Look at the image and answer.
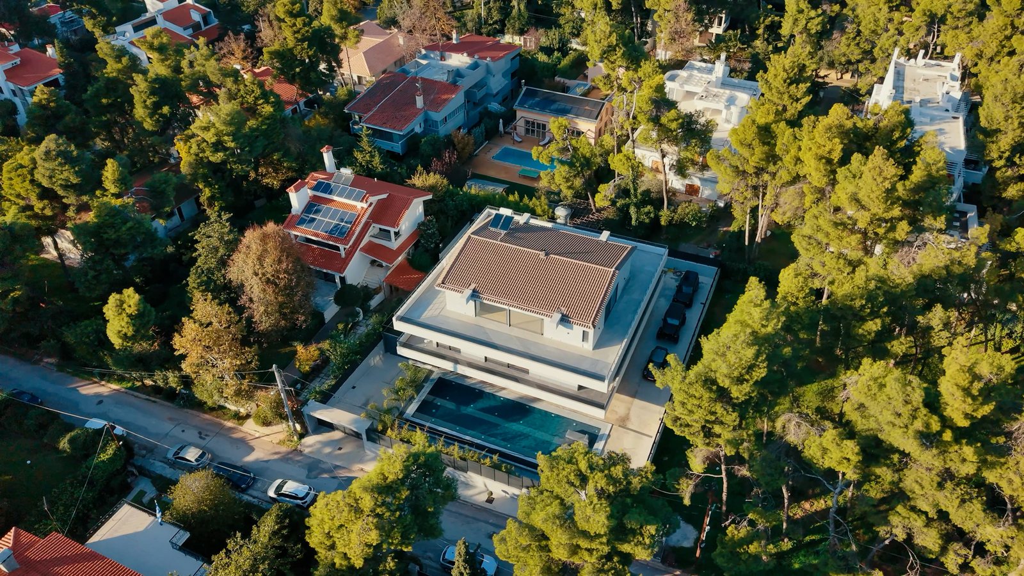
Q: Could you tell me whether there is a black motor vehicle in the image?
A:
Yes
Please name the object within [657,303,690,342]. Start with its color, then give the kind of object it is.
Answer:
black car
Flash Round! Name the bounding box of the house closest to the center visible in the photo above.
[391,200,668,418]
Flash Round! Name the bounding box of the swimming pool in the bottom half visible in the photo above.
[403,368,614,474]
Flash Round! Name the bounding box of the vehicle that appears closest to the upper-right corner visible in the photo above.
[673,266,704,303]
